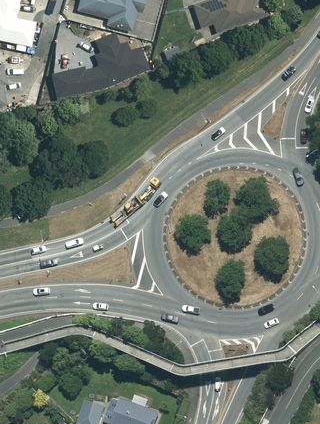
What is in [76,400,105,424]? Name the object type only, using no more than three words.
building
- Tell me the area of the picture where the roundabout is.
right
